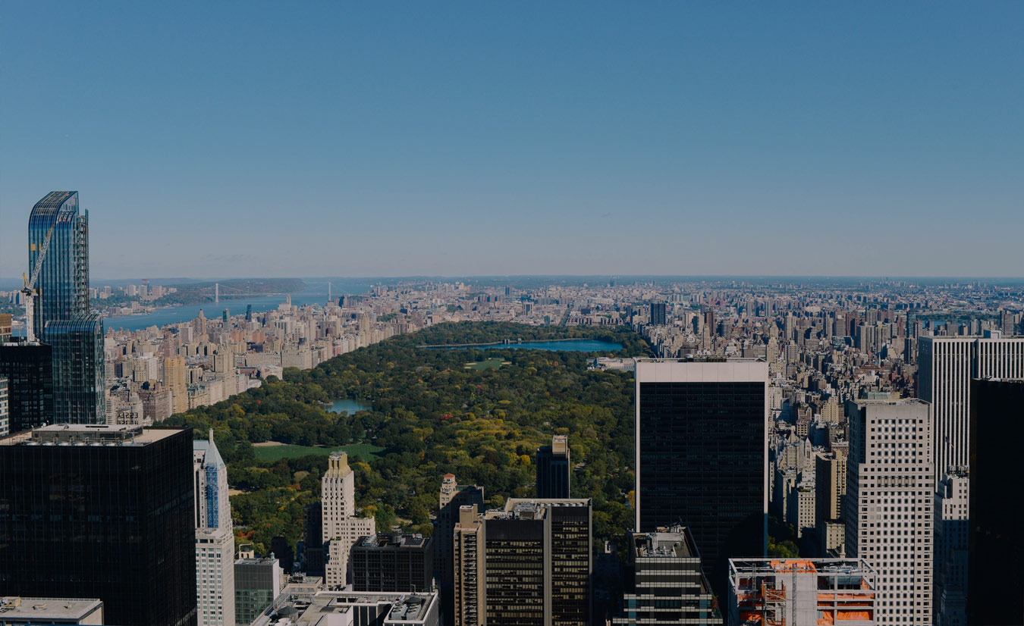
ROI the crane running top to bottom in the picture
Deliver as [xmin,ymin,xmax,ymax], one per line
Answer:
[17,219,58,339]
